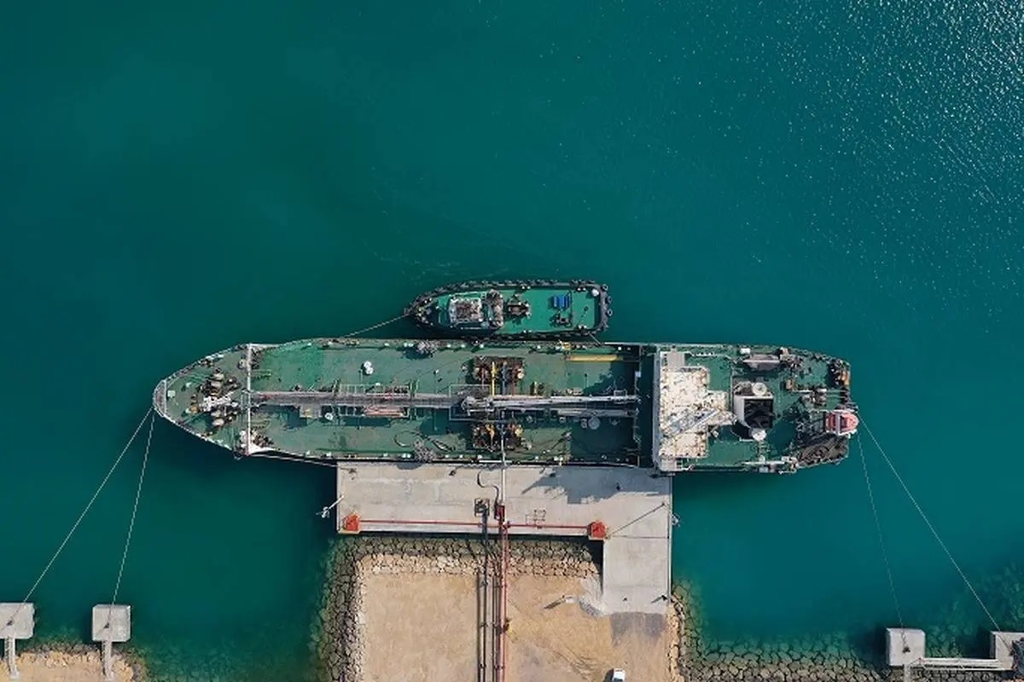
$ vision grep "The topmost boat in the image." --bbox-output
[404,278,614,341]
